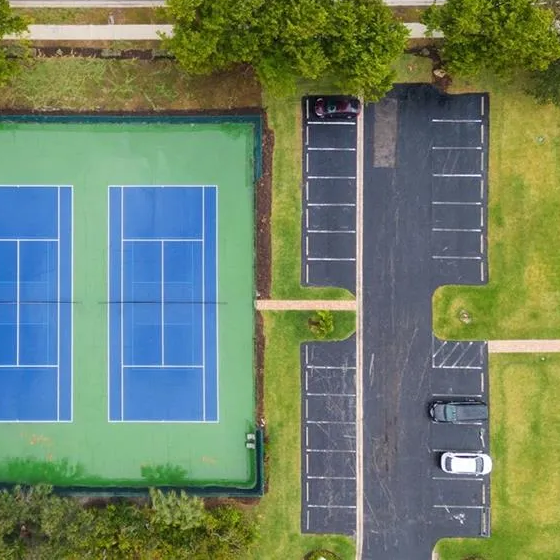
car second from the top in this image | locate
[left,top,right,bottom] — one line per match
[428,399,487,423]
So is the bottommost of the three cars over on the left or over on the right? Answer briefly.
right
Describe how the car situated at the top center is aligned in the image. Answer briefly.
horizontally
